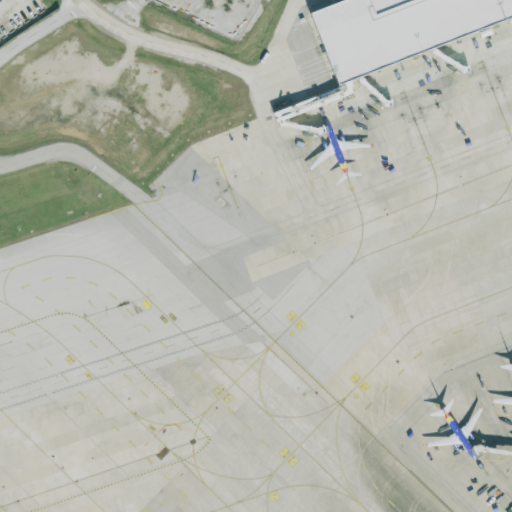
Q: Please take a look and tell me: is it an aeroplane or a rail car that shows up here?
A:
aeroplane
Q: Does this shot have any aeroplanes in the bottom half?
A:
Yes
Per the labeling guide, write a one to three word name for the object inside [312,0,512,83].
building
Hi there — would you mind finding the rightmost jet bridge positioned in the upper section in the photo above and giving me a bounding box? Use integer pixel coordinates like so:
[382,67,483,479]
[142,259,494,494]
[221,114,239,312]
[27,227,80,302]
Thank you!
[432,50,472,74]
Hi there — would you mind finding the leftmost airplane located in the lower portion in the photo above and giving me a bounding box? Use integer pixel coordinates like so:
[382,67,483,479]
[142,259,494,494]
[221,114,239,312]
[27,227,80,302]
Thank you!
[426,400,482,458]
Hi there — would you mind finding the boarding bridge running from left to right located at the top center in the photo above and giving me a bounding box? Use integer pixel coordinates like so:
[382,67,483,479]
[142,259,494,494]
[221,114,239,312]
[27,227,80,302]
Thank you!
[278,120,328,134]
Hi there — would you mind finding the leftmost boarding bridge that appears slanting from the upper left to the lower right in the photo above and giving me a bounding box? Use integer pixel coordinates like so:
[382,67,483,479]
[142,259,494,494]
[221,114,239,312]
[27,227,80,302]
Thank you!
[360,78,396,108]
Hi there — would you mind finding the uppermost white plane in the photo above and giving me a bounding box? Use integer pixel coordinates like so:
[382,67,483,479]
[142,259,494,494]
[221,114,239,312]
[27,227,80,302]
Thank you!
[310,120,373,184]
